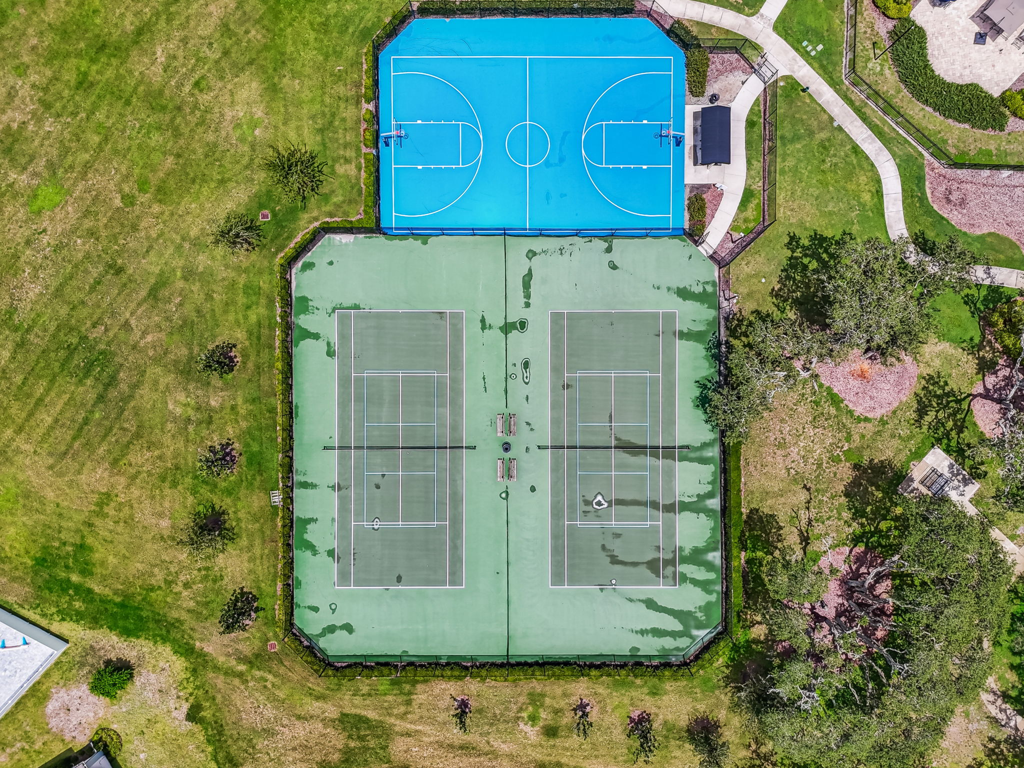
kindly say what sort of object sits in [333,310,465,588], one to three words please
tennis court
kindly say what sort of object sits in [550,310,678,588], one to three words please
tennis court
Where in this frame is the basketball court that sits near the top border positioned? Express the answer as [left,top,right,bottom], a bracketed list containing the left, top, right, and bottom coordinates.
[378,16,686,236]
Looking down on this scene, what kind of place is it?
sports ground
